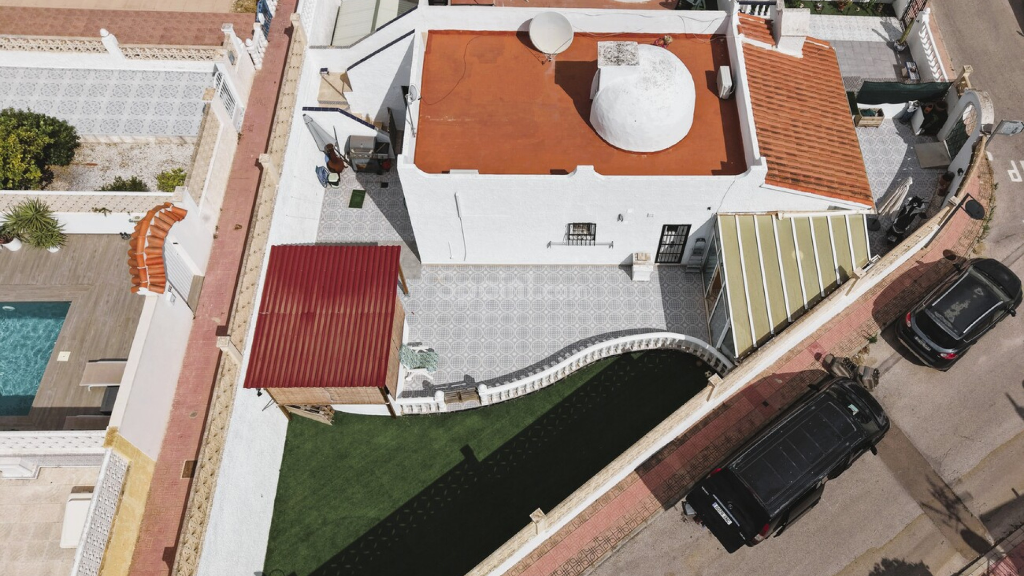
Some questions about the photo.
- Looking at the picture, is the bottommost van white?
No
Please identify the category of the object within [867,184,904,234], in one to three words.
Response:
umbrella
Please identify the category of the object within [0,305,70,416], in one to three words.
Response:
swimming pool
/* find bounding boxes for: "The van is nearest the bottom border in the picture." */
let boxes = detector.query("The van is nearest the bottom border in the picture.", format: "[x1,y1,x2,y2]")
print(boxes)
[686,386,893,545]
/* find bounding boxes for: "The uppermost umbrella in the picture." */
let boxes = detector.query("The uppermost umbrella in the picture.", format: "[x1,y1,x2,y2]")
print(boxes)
[305,115,357,176]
